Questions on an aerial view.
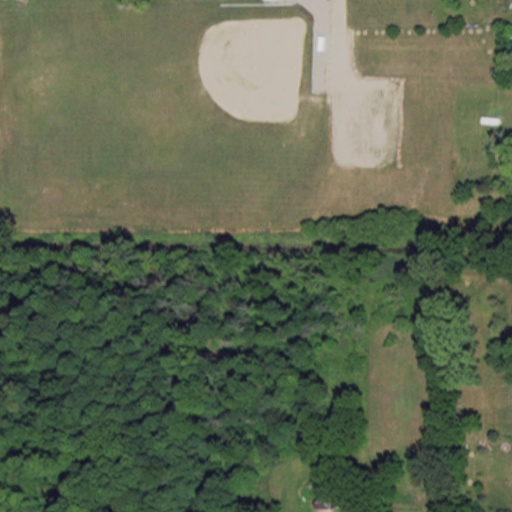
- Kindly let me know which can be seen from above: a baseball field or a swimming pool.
baseball field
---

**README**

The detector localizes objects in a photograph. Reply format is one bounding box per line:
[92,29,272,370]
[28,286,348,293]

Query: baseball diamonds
[199,20,304,122]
